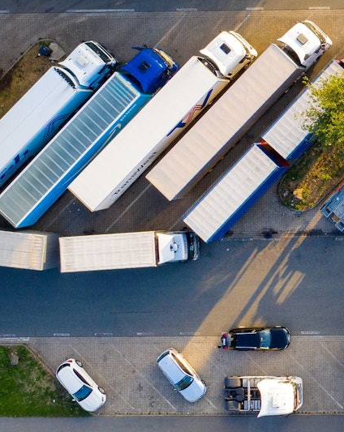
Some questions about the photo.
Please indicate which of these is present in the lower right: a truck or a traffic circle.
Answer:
truck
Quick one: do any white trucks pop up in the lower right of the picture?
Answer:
Yes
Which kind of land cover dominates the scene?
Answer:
paved ground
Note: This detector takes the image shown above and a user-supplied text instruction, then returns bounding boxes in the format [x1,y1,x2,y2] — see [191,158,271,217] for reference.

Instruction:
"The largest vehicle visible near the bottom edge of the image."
[225,378,303,421]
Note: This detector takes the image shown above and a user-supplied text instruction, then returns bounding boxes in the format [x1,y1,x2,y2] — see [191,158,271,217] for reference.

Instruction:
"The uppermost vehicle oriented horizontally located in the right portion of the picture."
[216,324,290,353]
